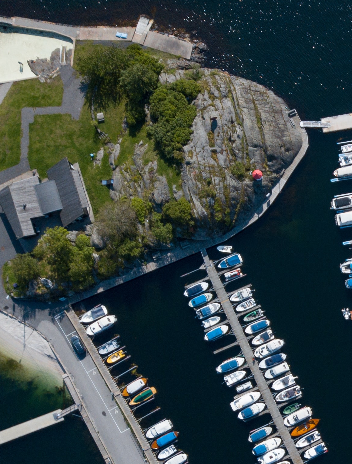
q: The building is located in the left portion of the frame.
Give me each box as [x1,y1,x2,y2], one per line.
[0,157,92,237]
